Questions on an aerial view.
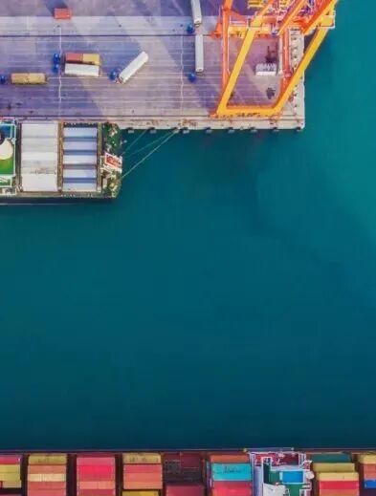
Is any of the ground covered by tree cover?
No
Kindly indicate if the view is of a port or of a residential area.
port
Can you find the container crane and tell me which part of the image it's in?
top right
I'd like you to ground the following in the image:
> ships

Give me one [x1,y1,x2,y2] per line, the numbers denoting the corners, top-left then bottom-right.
[0,114,123,201]
[0,441,376,496]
